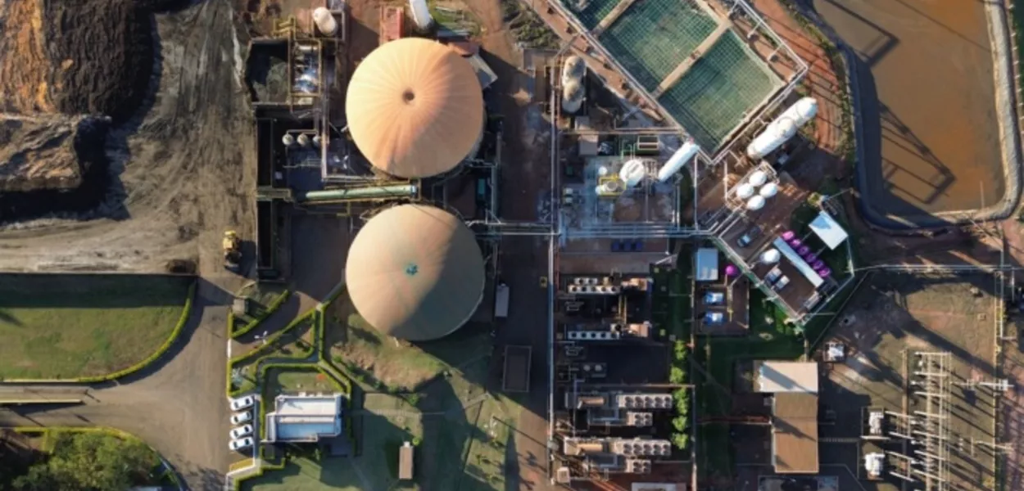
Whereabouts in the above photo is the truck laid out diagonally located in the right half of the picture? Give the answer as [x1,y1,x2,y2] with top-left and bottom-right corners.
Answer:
[734,225,760,249]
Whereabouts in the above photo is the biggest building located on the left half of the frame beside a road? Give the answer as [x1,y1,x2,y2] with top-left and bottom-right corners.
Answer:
[265,390,347,443]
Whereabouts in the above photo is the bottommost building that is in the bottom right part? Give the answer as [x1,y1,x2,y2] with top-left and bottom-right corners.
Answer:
[769,392,818,473]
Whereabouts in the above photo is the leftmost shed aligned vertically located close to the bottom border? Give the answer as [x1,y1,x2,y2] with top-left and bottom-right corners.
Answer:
[398,445,414,480]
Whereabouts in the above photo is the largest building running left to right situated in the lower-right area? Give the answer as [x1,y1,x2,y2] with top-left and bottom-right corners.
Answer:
[750,362,819,392]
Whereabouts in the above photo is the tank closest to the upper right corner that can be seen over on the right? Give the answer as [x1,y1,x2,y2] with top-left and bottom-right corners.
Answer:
[770,99,817,130]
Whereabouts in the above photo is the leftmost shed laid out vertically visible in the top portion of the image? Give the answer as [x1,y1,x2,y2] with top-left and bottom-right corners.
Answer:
[326,88,342,126]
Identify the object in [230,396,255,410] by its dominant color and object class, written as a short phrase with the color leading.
white car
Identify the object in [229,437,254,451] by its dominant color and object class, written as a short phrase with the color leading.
white car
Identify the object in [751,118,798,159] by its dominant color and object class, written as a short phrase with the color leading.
white storage tank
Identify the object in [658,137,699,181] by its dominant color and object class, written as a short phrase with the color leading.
white storage tank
